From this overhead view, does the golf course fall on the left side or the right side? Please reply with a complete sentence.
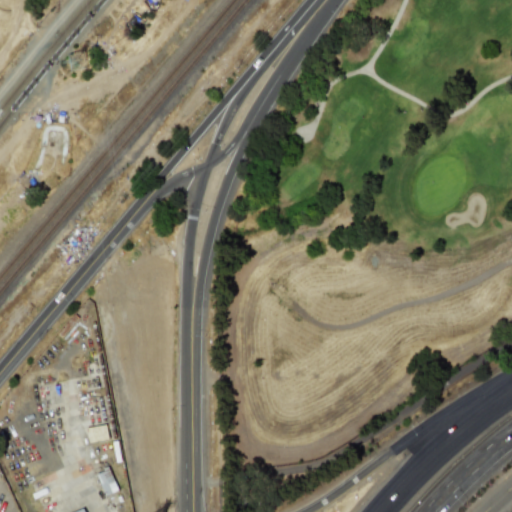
The golf course appears in the right half of the scene.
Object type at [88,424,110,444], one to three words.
building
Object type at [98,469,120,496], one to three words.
shed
